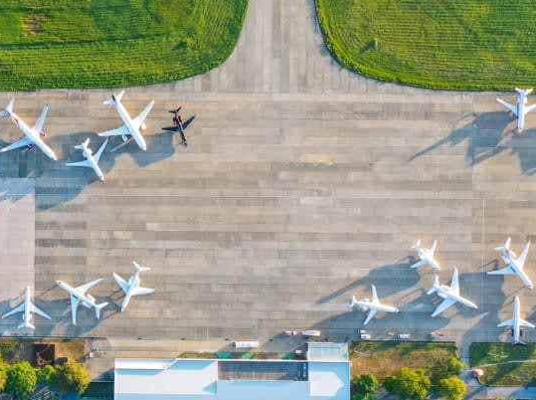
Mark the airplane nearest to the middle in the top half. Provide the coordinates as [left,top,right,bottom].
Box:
[163,108,197,145]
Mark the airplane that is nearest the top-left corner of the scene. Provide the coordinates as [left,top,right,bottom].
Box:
[1,101,58,160]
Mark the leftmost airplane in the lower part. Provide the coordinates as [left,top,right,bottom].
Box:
[3,287,52,327]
